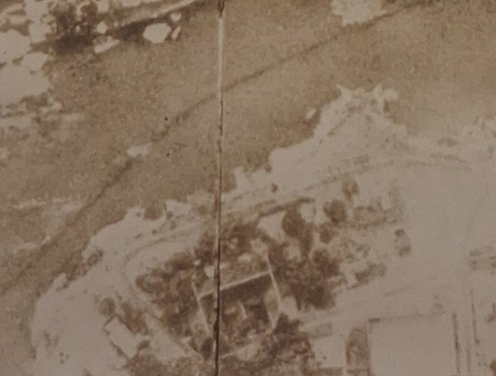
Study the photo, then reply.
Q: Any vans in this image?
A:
No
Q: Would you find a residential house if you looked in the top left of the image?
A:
No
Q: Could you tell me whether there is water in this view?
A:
Yes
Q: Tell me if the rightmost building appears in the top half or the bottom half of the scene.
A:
bottom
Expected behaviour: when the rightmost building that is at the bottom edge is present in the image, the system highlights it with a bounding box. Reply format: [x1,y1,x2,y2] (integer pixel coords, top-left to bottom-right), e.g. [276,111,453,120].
[369,314,458,376]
